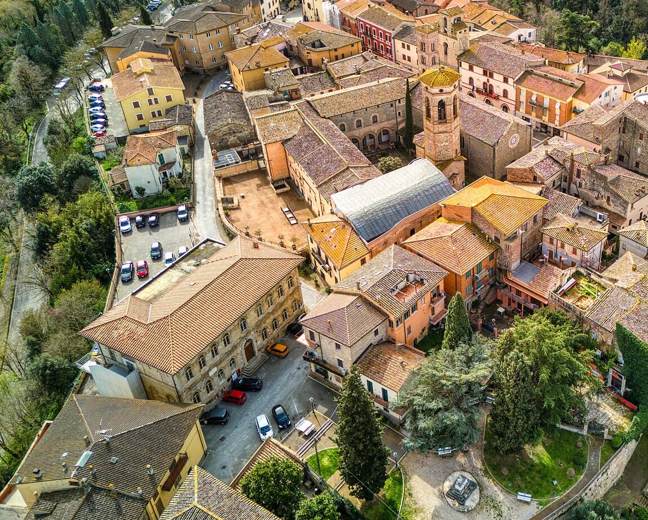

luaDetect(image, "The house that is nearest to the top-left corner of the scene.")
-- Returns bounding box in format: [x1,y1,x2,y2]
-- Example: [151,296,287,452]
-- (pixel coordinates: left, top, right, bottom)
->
[100,25,168,75]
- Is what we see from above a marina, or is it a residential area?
residential area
